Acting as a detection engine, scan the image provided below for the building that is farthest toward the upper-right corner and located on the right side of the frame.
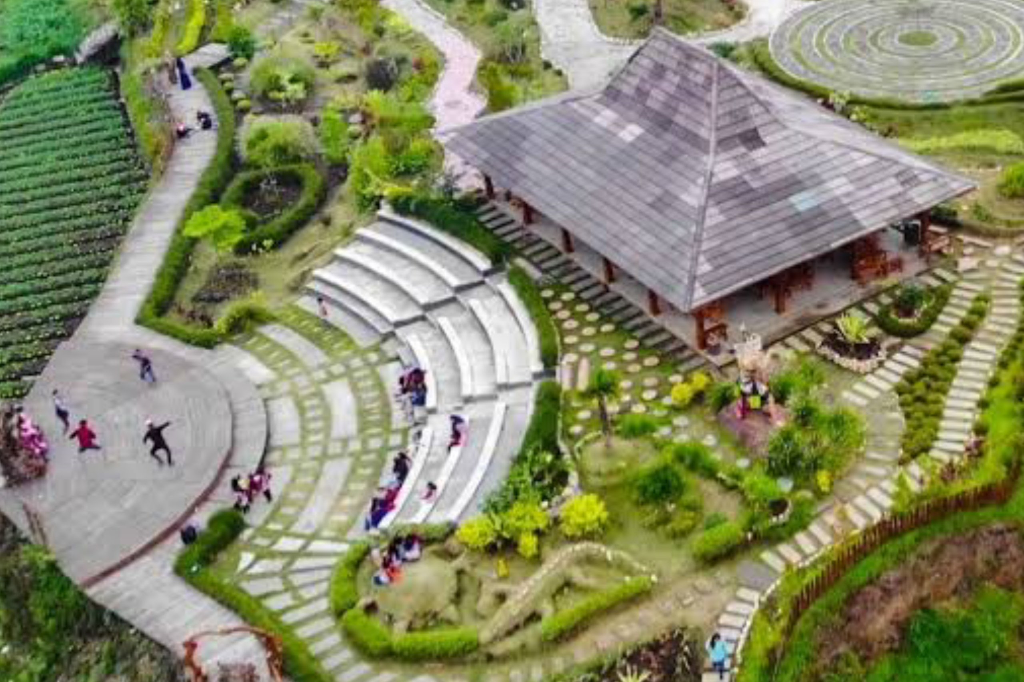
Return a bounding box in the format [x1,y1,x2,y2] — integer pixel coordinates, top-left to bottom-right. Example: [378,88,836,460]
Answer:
[440,24,979,377]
